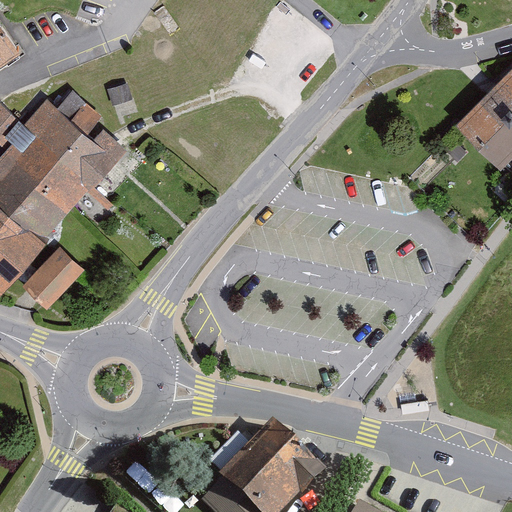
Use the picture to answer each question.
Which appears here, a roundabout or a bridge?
roundabout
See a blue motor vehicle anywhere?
Yes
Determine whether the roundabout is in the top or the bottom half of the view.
bottom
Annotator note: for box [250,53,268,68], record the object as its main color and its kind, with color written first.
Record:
white vehicle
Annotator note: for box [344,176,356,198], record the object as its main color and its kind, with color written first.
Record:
red vehicle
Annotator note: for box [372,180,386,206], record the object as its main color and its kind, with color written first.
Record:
white car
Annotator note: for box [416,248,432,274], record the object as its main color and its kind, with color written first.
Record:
gray car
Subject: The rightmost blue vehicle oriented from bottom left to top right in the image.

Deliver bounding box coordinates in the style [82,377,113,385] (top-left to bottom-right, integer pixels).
[352,323,373,343]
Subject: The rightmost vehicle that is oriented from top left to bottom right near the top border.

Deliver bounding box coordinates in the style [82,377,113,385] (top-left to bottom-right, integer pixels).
[312,8,333,30]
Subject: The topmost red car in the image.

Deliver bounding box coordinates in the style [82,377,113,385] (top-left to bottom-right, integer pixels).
[37,16,54,37]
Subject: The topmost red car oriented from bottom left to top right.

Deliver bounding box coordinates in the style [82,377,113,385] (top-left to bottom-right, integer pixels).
[298,62,317,82]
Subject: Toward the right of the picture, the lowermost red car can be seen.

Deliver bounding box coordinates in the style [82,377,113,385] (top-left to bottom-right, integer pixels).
[394,240,417,258]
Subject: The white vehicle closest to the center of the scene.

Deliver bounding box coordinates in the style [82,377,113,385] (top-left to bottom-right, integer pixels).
[328,220,346,240]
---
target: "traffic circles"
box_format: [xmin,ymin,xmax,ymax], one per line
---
[88,358,142,412]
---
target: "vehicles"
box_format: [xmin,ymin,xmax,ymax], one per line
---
[124,118,148,134]
[416,248,432,274]
[298,62,317,82]
[150,107,174,123]
[328,220,346,240]
[352,323,373,343]
[254,206,274,226]
[372,180,386,206]
[37,16,54,37]
[319,366,332,389]
[26,20,42,41]
[434,452,455,466]
[494,42,512,56]
[344,176,356,198]
[394,240,417,258]
[312,8,333,30]
[380,476,396,496]
[403,488,419,510]
[288,496,304,512]
[366,250,378,274]
[81,1,104,16]
[240,276,260,297]
[424,497,442,512]
[364,328,386,348]
[306,441,326,461]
